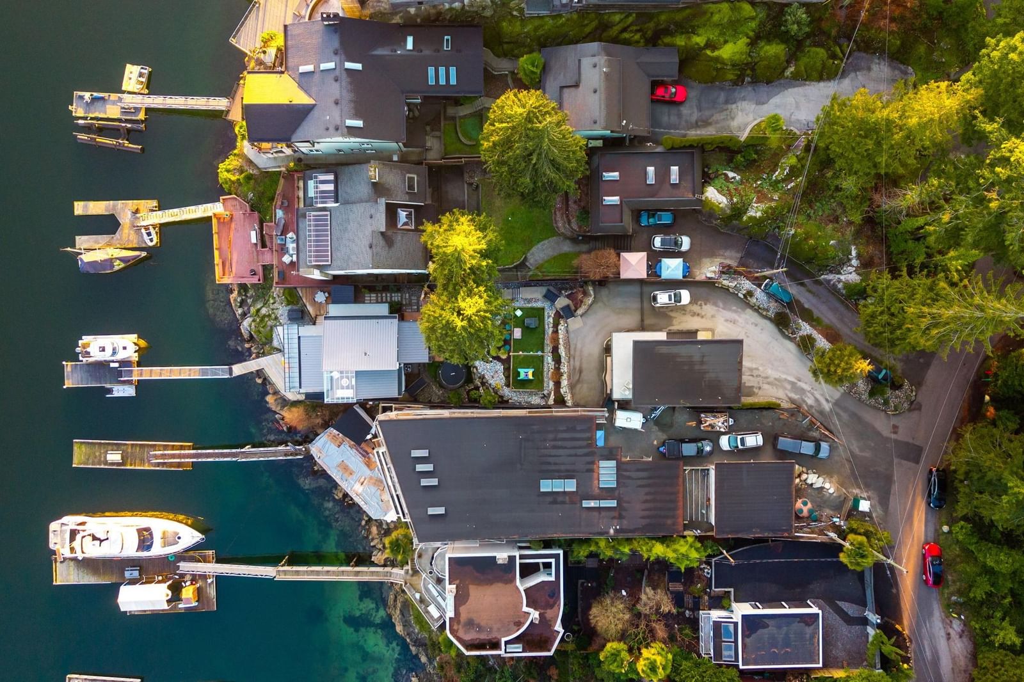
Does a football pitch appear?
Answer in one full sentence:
No, the scene contains no football pitch.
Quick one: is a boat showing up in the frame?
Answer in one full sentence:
Yes, the photo shows a boat.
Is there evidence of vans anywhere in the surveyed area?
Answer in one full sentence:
Yes, the photo shows a van.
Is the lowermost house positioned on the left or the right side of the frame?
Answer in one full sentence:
The lowermost house sits on the right side.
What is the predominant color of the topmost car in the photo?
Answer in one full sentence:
From above, the topmost car appears red.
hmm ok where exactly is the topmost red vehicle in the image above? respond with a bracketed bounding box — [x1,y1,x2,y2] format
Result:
[652,81,689,102]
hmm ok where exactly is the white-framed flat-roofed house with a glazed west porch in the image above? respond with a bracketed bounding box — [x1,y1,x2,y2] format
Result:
[695,599,821,667]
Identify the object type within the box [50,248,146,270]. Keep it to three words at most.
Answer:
boat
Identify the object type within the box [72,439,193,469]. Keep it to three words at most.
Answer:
pier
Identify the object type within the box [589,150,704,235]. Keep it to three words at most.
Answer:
building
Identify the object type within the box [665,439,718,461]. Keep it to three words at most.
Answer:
truck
